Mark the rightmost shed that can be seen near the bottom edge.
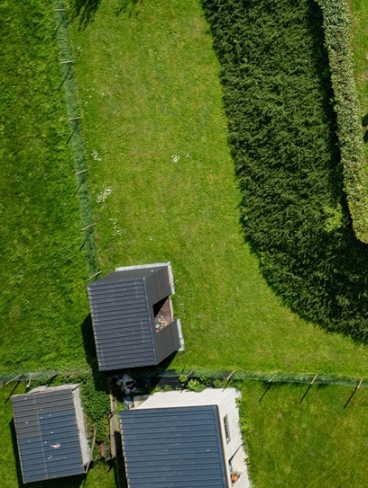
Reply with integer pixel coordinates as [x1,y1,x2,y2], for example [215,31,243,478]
[120,390,251,488]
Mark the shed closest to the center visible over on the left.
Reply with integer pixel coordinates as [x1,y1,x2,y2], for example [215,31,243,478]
[87,267,186,370]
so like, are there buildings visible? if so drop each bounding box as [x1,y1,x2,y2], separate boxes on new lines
[10,383,97,483]
[120,390,251,488]
[87,267,186,370]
